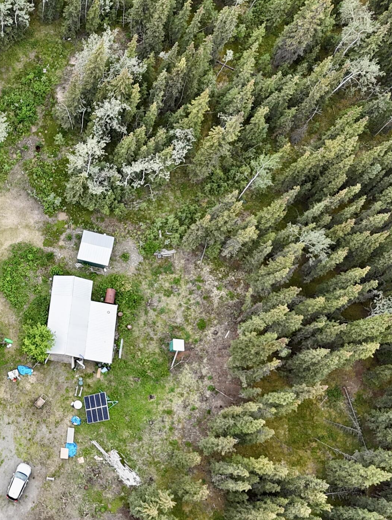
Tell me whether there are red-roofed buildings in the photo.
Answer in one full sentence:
No, the scene contains no red-roofed building.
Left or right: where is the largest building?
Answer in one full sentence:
The largest building sits on the left side.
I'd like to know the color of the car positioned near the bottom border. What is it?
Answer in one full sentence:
The color of the car positioned near the bottom border is white.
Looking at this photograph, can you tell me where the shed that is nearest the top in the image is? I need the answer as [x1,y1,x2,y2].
[78,230,114,267]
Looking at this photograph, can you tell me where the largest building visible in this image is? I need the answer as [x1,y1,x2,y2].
[43,276,117,370]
